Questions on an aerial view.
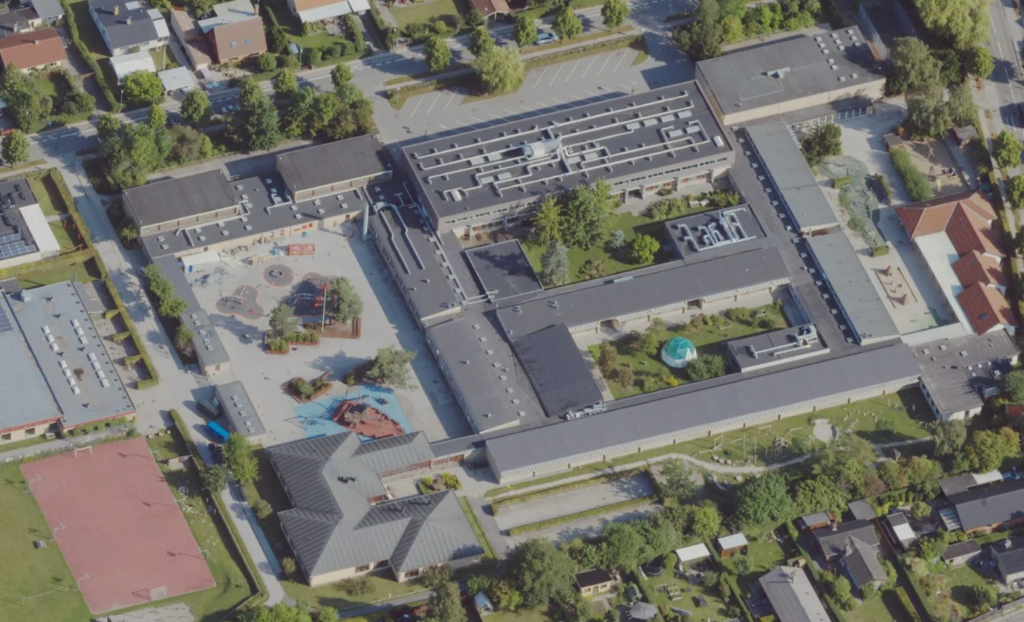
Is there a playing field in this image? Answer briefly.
Yes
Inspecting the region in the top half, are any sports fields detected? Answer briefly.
No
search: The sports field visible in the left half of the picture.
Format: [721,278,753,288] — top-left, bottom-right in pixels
[21,436,217,615]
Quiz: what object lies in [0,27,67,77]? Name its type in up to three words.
house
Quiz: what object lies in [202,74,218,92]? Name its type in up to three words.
car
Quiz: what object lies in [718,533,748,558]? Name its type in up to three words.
shed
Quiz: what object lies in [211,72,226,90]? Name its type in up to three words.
car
